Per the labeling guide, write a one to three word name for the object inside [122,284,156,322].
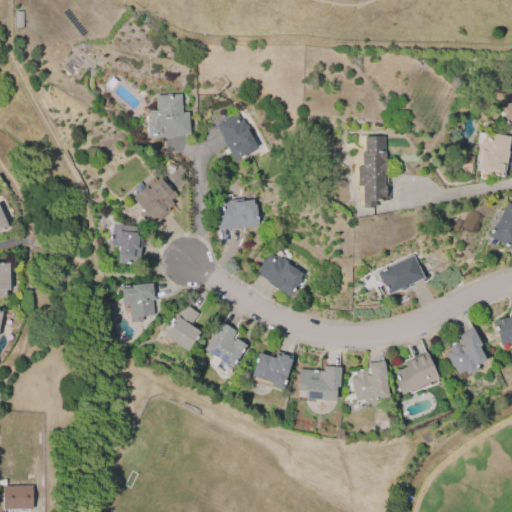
house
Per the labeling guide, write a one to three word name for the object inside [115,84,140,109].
swimming pool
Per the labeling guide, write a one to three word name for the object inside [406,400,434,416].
swimming pool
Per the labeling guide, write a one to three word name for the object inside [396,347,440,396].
house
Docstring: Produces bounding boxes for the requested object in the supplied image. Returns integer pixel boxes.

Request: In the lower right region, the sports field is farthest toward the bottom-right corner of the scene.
[422,424,512,512]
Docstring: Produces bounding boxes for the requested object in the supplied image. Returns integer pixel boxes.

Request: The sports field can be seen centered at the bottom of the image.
[109,394,339,512]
